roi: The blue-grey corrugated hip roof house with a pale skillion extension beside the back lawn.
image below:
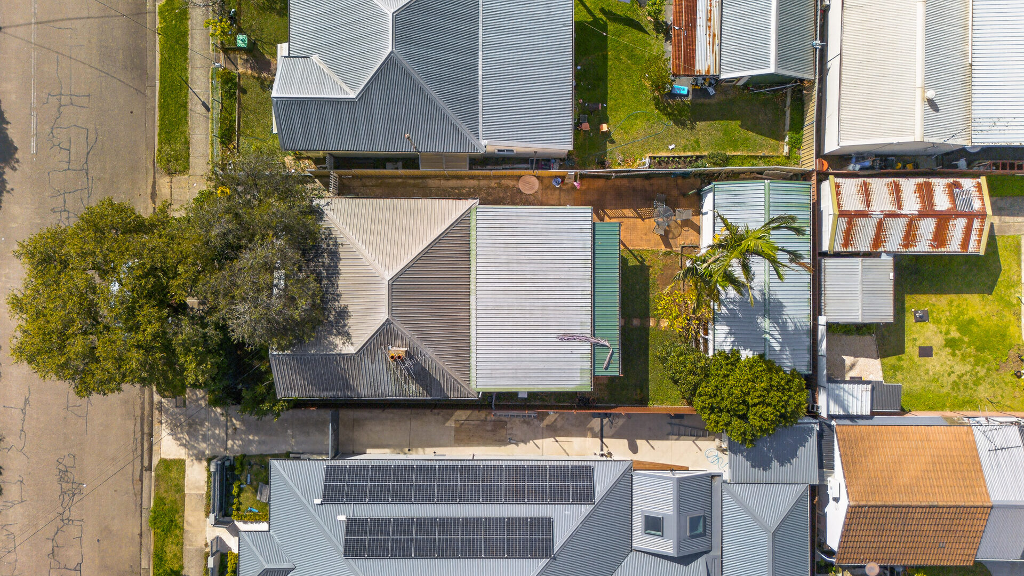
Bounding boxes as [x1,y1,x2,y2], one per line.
[272,0,576,157]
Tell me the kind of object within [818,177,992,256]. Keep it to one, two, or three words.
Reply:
building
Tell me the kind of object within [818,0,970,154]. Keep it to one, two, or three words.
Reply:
building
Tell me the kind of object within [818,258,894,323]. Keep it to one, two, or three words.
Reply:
shed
